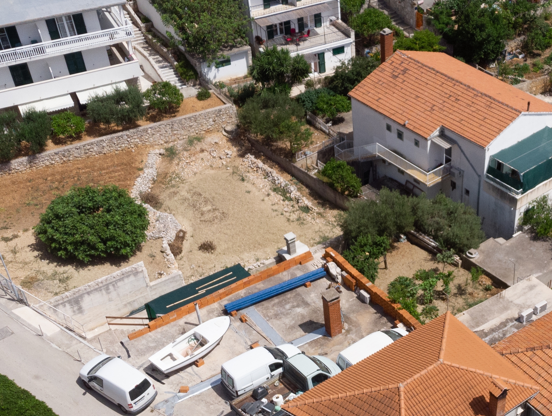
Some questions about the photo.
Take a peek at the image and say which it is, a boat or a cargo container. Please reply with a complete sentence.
This aerial view contains a boat.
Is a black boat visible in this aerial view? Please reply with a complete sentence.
No, the picture doesn't show any black boat.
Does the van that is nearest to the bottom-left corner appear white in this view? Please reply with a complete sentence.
Yes, the van that is nearest to the bottom-left corner is indeed white.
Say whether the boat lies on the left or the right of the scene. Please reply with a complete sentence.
The boat appears in the left half of the scene.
